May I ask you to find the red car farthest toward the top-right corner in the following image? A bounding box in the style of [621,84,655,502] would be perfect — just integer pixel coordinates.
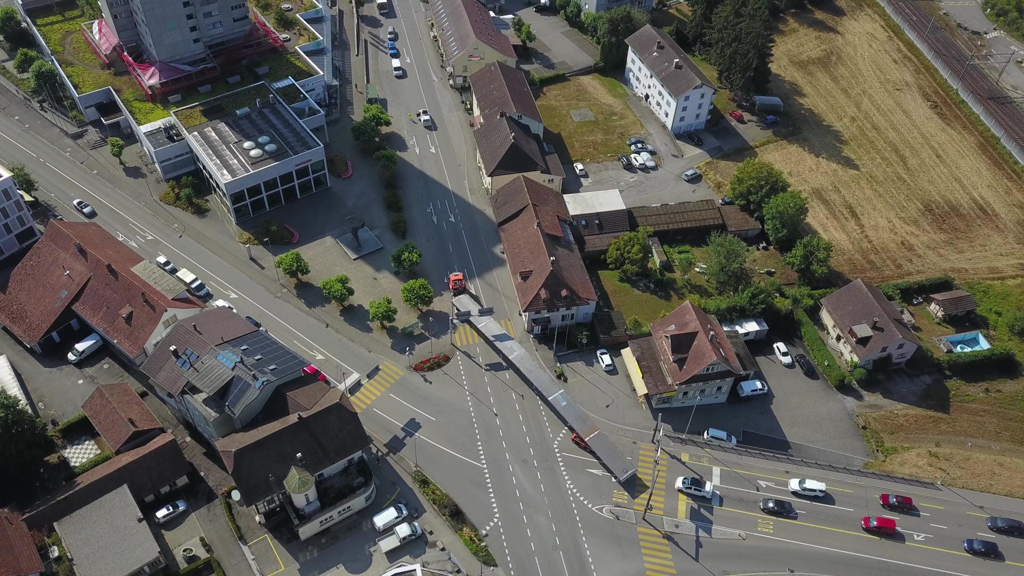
[728,111,744,123]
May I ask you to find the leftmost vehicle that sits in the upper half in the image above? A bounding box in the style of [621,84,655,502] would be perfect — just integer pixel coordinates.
[72,200,96,217]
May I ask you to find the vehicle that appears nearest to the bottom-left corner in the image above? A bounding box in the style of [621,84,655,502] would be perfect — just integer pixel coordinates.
[149,497,192,525]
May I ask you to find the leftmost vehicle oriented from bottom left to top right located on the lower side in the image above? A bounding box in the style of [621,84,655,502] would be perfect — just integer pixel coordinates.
[66,331,103,361]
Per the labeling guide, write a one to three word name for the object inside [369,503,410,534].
van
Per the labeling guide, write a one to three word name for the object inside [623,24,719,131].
building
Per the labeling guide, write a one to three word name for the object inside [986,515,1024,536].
car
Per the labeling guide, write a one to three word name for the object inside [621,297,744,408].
house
